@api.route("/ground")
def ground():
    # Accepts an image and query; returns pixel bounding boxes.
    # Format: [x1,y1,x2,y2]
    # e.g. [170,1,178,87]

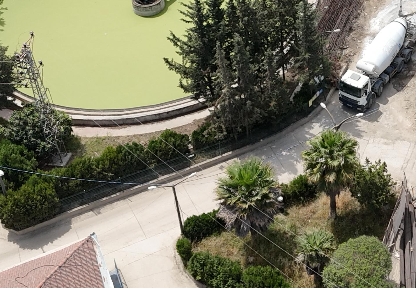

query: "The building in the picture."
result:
[0,233,105,288]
